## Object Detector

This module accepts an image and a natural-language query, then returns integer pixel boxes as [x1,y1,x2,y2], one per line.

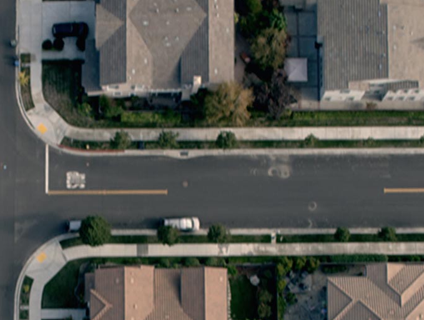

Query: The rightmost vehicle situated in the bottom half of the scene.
[160,216,200,232]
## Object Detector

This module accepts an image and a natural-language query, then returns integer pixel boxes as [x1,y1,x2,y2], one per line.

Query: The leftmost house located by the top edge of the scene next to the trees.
[83,0,237,98]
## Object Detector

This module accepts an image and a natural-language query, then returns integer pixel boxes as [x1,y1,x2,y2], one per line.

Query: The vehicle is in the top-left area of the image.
[53,19,87,36]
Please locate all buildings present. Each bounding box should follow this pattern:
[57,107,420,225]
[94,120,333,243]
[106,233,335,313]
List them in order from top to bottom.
[83,0,237,98]
[316,0,424,101]
[323,263,424,320]
[84,266,228,320]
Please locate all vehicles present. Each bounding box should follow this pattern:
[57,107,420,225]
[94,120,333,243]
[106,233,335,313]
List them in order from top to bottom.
[53,19,87,36]
[160,216,200,232]
[63,218,87,233]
